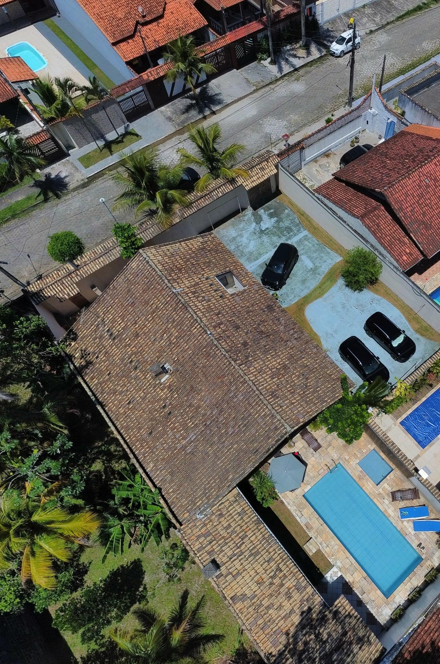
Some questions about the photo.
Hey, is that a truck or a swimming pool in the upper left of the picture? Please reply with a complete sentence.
The feature located in the upper left of the picture is a swimming pool.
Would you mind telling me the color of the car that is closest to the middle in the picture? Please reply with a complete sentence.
In this view, the car that is closest to the middle is black.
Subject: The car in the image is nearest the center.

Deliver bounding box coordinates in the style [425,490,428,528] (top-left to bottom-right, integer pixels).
[261,236,299,292]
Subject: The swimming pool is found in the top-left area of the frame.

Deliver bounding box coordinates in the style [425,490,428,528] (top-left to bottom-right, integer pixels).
[4,39,52,72]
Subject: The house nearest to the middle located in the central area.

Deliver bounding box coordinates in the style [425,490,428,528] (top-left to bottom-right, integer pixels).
[65,230,356,523]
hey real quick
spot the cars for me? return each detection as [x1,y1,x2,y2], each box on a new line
[362,312,418,365]
[337,336,395,391]
[329,148,363,181]
[261,236,299,292]
[331,26,364,58]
